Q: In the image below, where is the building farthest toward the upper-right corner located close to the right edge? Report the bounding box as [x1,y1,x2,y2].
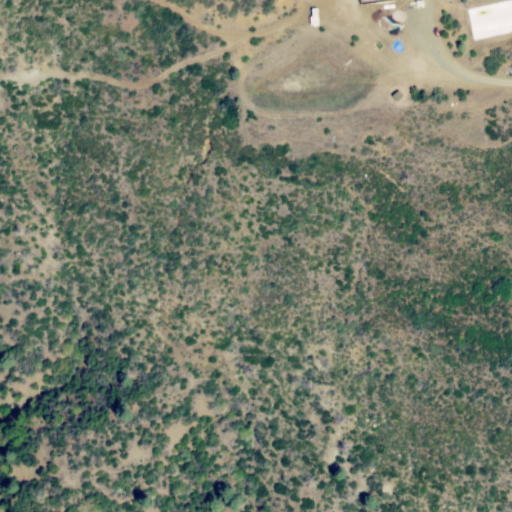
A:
[470,2,512,40]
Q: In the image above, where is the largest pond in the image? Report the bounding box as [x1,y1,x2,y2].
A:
[244,38,378,112]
